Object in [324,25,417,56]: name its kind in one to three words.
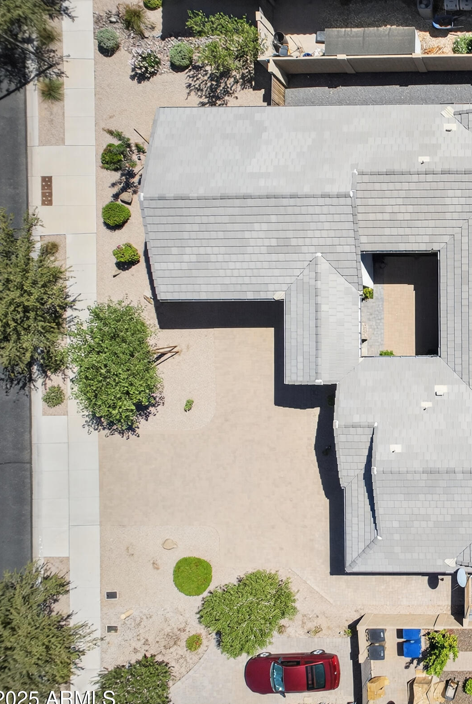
shed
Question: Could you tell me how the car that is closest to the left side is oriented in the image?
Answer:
from side to side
